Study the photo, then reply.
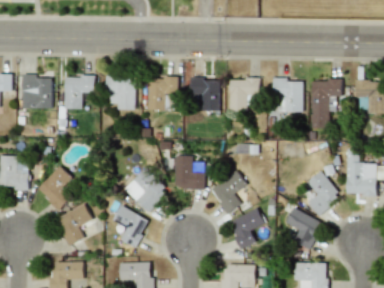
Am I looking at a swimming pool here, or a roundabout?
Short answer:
swimming pool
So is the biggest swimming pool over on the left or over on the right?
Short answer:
left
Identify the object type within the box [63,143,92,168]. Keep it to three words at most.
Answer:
swimming pool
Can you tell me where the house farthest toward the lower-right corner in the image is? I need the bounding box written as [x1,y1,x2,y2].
[296,263,330,288]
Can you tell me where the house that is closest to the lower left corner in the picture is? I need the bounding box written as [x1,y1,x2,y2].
[50,262,85,288]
